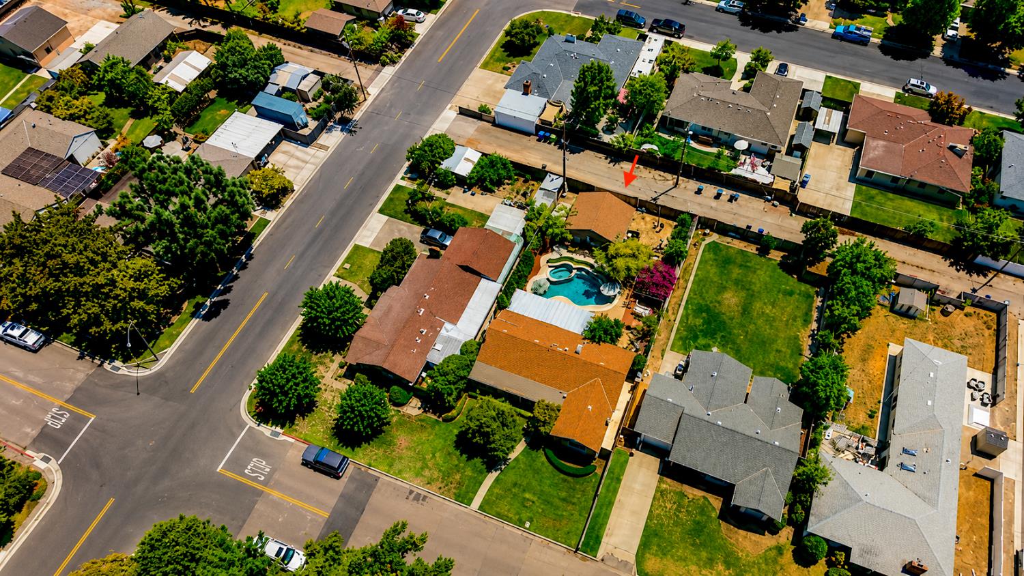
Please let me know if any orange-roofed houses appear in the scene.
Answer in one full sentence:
Yes, the image includes an orange-roofed house.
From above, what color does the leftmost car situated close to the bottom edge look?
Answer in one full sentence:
In this view, the leftmost car situated close to the bottom edge is white.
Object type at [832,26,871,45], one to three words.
vehicle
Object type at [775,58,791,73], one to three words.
car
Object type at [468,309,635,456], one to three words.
house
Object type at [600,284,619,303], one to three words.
umbrella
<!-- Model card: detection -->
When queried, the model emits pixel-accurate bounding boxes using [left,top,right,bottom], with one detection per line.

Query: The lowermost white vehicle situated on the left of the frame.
[255,535,308,573]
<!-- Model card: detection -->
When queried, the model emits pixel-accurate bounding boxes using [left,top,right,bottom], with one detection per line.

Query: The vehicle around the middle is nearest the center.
[417,228,452,251]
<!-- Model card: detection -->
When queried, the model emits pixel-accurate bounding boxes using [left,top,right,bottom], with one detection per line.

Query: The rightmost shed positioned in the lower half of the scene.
[973,428,1009,457]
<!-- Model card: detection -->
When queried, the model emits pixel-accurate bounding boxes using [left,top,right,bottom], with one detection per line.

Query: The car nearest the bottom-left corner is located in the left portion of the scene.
[1,325,44,352]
